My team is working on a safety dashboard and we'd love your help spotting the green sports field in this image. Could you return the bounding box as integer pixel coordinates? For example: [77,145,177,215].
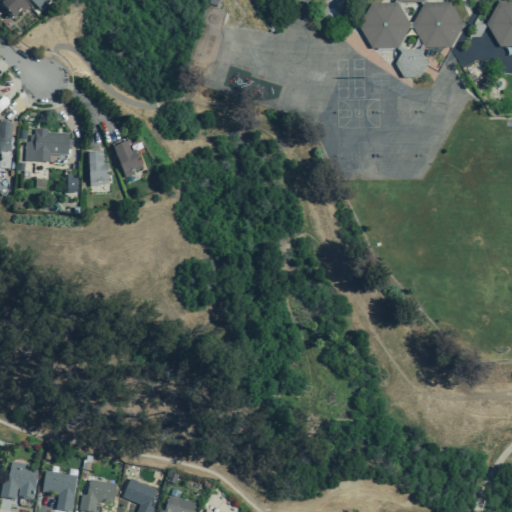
[347,102,512,359]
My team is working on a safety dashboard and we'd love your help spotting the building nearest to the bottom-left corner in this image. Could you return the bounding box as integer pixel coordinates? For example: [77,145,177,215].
[0,463,38,500]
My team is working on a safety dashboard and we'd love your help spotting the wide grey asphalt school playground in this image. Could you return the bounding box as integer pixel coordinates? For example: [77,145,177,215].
[205,18,475,180]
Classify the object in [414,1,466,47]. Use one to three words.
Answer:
building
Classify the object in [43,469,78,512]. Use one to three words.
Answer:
house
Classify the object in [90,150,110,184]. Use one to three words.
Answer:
house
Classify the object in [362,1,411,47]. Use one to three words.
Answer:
building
